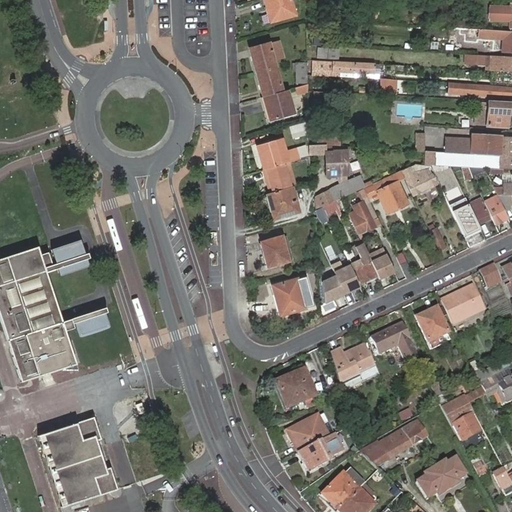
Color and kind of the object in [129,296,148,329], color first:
white vehicle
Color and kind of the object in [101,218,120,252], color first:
white vehicle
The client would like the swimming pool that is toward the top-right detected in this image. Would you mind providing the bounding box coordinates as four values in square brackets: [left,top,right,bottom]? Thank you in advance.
[391,102,425,124]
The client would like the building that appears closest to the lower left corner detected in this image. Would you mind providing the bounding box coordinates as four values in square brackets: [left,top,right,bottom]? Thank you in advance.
[40,416,118,511]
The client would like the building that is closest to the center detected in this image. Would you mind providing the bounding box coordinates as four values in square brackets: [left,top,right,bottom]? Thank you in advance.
[260,235,292,270]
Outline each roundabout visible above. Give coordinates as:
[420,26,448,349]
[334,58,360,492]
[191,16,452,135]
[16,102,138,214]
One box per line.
[76,58,194,176]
